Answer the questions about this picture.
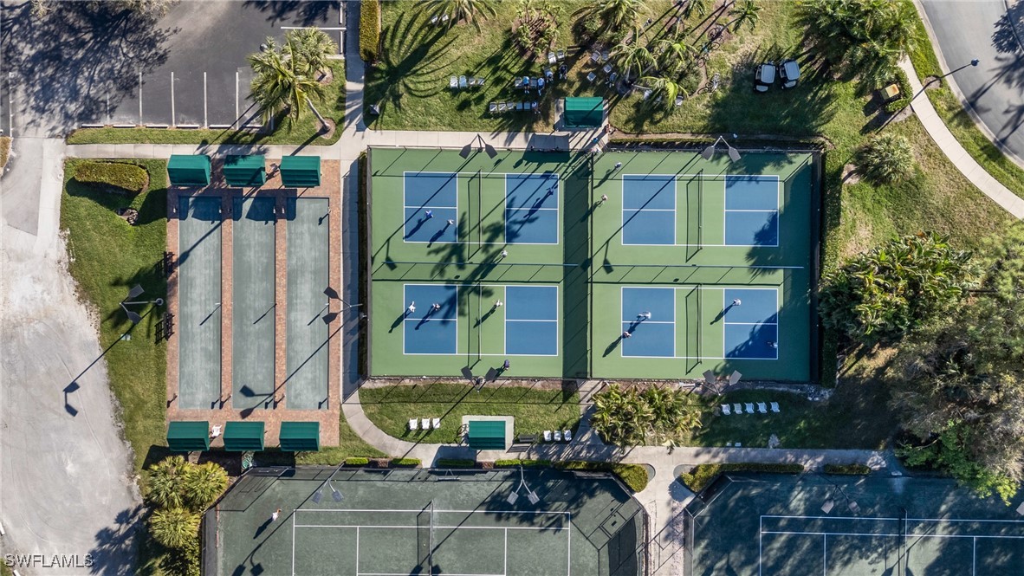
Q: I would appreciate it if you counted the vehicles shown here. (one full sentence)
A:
In total, 2 vehicles can be seen.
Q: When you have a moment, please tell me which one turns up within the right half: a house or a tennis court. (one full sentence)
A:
The feature located within the right half is a tennis court.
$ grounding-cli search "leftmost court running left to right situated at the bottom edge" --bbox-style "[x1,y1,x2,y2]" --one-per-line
[216,468,641,576]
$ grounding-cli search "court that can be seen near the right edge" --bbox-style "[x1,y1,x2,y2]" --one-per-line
[686,474,1024,576]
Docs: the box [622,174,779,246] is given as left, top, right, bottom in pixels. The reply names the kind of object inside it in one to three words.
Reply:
sports court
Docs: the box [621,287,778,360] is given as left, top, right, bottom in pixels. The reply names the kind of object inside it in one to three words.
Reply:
sports court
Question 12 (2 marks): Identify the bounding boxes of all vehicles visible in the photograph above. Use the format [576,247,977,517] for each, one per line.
[756,62,777,91]
[778,59,802,89]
